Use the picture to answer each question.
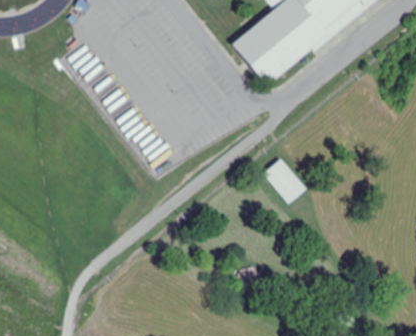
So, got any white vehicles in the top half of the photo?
Yes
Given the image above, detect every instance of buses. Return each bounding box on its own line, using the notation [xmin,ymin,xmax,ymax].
[65,44,91,64]
[135,130,161,150]
[105,93,131,114]
[122,120,148,140]
[91,74,118,94]
[130,123,156,144]
[148,149,174,170]
[100,86,126,106]
[146,143,172,163]
[81,62,106,83]
[139,137,165,158]
[76,56,102,76]
[118,112,144,133]
[114,106,140,126]
[70,52,96,72]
